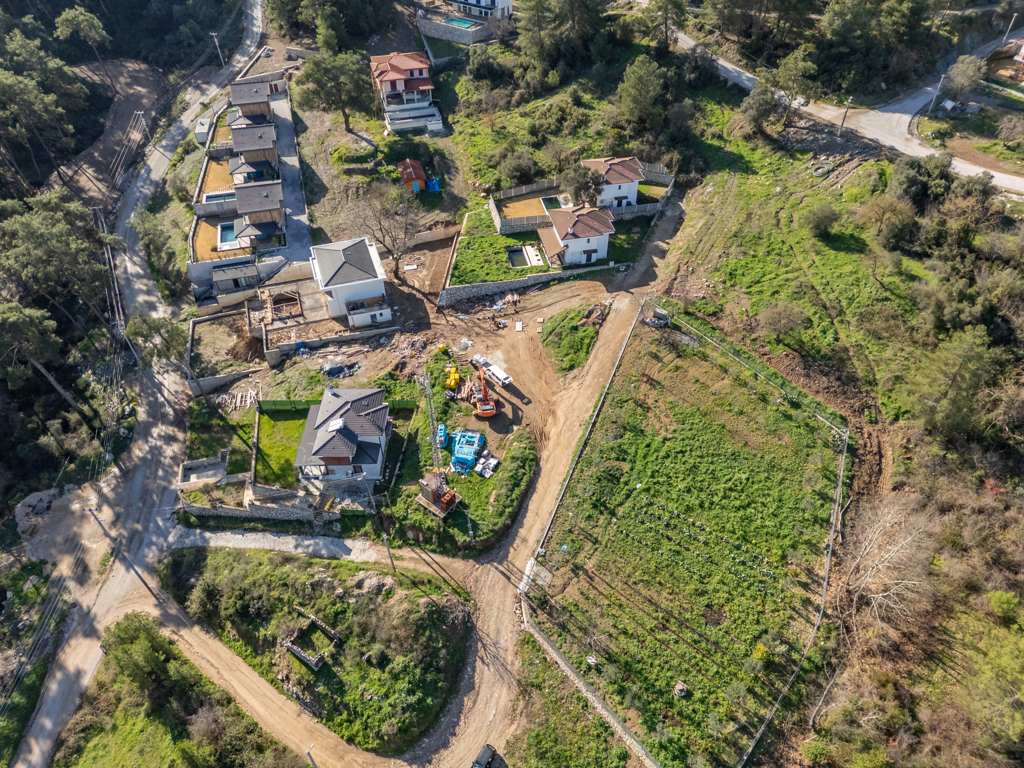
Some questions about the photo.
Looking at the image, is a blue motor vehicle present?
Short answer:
No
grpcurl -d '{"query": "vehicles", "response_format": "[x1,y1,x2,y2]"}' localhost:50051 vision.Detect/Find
[482,364,519,395]
[468,742,498,768]
[469,352,501,421]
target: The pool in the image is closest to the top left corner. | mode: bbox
[202,190,235,203]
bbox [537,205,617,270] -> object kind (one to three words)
house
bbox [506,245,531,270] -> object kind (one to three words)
swimming pool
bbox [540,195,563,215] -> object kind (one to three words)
swimming pool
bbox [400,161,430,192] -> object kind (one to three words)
shed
